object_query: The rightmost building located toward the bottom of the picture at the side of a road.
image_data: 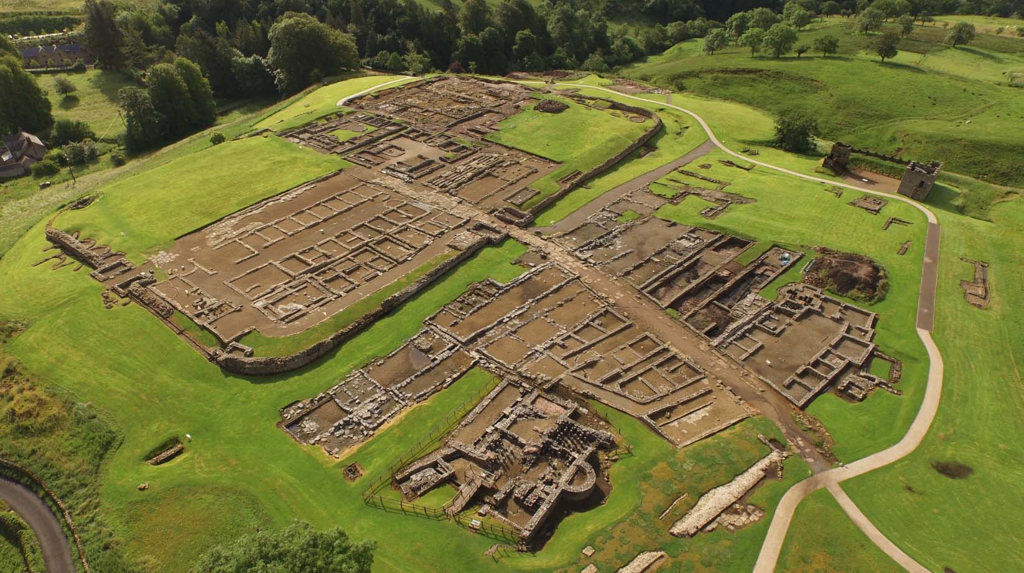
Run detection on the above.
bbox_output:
[732,280,878,412]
